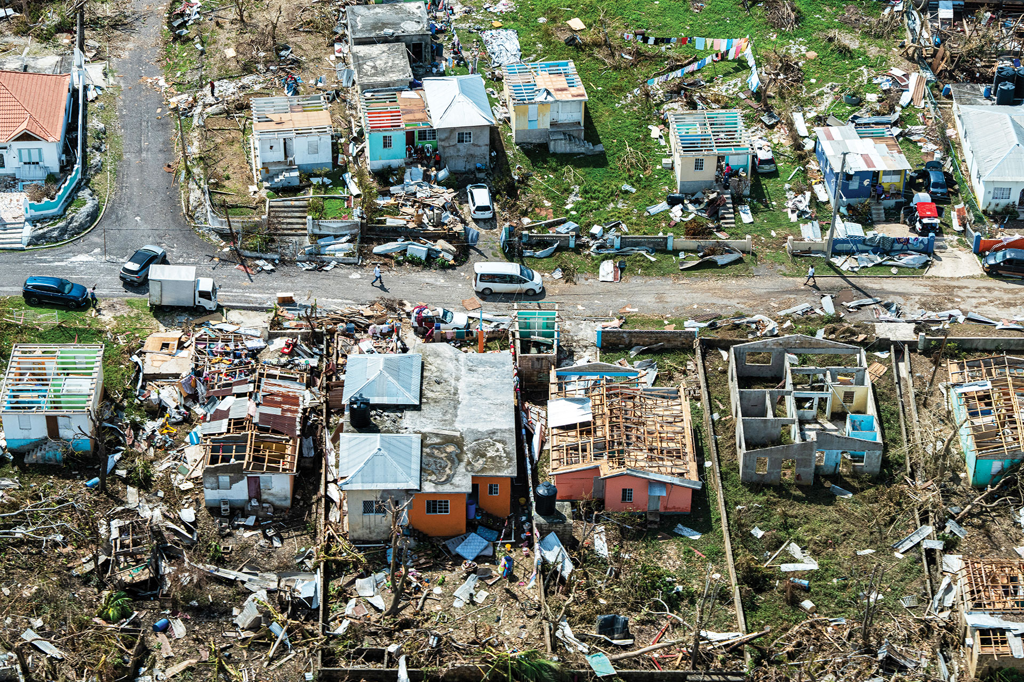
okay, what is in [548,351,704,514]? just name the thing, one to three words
house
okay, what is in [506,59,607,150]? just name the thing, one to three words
house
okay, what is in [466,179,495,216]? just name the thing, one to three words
car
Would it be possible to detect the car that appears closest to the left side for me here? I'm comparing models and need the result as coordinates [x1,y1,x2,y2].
[16,266,87,303]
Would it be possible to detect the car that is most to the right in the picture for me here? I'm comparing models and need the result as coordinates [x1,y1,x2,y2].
[979,240,1024,275]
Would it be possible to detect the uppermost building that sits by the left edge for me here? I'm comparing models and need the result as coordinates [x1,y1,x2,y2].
[0,92,80,199]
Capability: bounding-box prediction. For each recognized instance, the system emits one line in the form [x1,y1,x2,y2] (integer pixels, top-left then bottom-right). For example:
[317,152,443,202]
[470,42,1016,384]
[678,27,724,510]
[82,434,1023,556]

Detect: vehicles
[143,261,221,310]
[901,195,949,229]
[473,260,544,296]
[466,179,495,216]
[750,138,781,173]
[913,150,961,197]
[120,240,178,283]
[16,266,87,303]
[979,240,1024,275]
[408,297,472,331]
